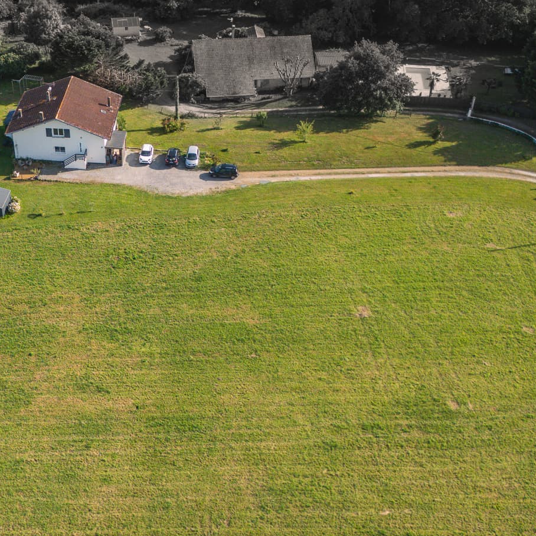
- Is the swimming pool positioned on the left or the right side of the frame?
right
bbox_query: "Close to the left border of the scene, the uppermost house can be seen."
[4,76,128,166]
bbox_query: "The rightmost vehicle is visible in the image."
[207,161,240,178]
